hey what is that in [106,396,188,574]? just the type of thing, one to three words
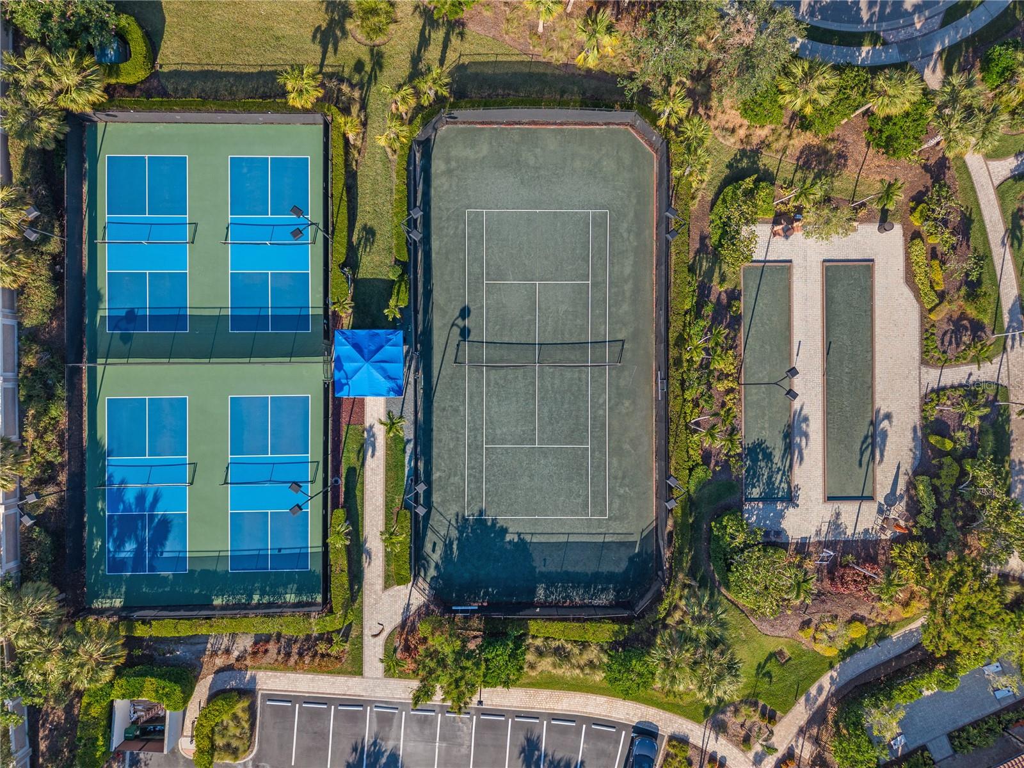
sports court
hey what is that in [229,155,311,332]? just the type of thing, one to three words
sports court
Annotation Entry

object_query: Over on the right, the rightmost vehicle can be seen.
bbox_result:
[629,731,658,768]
